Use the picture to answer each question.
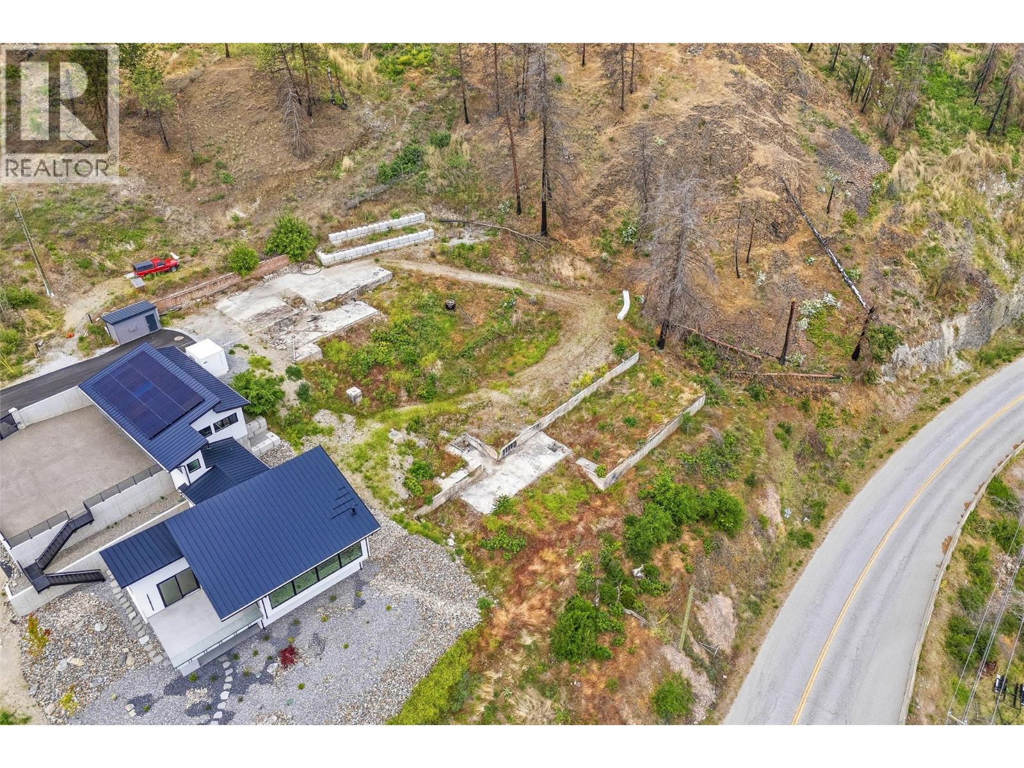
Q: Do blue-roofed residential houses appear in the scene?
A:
Yes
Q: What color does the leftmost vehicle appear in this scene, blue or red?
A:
red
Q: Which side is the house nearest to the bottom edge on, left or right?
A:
left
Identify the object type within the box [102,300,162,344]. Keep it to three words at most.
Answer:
shed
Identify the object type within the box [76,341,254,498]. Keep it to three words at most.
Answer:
building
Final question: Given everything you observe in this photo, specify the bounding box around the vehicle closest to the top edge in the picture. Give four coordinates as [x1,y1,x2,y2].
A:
[129,255,179,275]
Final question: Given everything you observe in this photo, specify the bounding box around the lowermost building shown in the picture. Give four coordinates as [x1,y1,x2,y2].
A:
[97,439,381,678]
